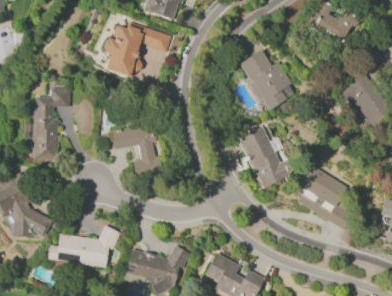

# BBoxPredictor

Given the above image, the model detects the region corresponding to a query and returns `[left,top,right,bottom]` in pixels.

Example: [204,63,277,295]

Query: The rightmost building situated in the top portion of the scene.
[342,74,390,126]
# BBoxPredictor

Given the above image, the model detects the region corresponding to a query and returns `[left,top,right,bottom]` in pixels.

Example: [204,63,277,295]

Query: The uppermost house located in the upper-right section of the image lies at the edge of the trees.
[314,1,358,38]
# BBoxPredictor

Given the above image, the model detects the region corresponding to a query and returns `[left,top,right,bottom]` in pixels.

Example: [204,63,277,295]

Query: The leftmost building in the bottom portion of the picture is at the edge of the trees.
[0,176,51,240]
